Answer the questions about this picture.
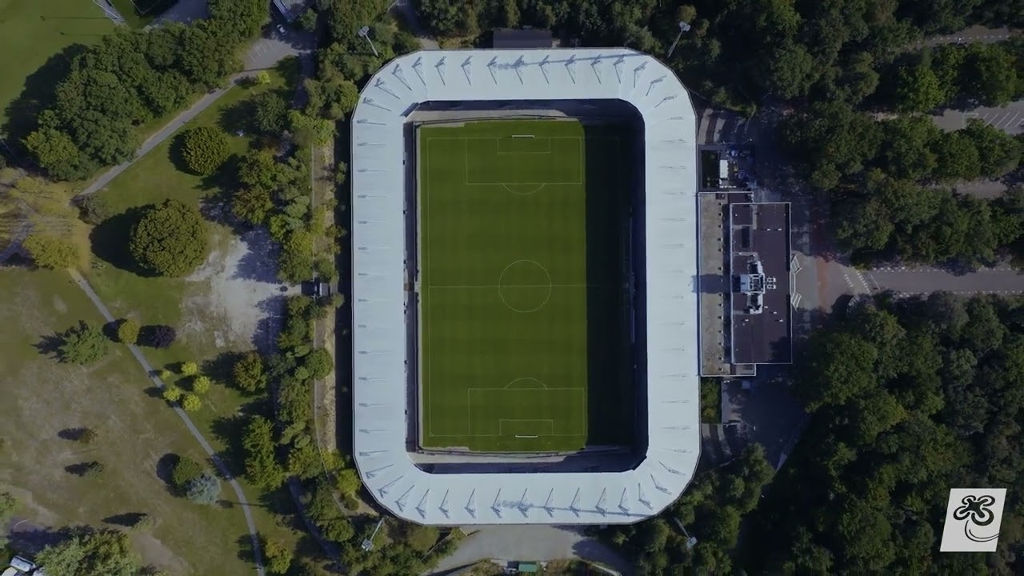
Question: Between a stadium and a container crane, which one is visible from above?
stadium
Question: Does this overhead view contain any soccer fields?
Yes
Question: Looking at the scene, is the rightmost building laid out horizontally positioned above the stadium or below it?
above it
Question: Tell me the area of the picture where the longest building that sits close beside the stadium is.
right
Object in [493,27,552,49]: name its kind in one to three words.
building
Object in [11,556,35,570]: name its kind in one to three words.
vehicle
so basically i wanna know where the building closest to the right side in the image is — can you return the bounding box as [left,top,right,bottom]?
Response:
[698,191,801,376]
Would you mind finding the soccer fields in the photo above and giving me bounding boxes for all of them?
[421,120,630,453]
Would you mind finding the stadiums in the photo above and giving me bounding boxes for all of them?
[351,48,701,525]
